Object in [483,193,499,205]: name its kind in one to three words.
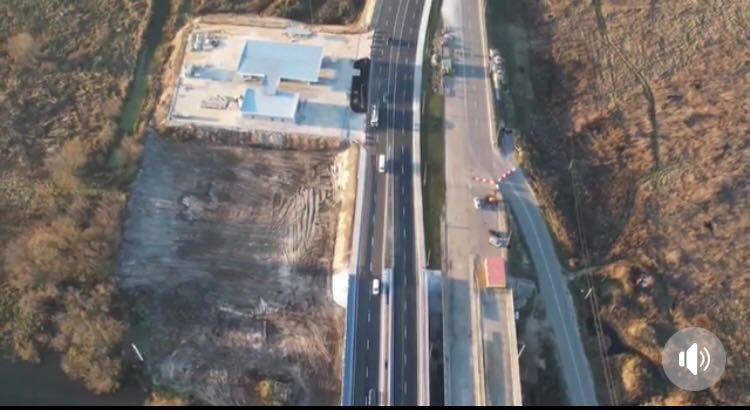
vehicle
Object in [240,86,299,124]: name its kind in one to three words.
building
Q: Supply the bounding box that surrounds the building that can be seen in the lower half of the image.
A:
[480,259,506,291]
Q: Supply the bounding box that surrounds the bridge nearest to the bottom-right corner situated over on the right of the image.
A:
[439,283,521,410]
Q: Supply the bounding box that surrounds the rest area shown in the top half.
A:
[168,29,371,142]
